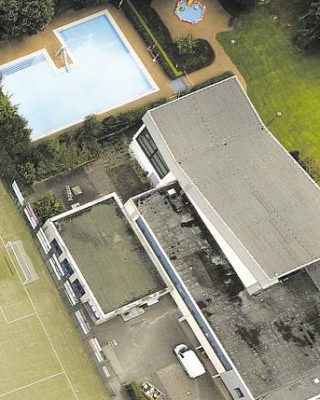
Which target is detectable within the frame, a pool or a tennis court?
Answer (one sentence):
I can see a pool in this picture.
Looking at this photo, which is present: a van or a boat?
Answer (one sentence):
I can see a van in this picture.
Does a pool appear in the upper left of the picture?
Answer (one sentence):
Yes, a pool is visible in the upper left of the picture.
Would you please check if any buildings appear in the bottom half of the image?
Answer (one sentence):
Yes, a building can be seen in the bottom half of the image.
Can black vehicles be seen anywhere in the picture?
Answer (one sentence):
No, the photo shows no black vehicle.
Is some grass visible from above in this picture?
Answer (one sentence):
Yes, grass can be seen from above here.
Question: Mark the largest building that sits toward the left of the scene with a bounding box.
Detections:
[43,195,171,327]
